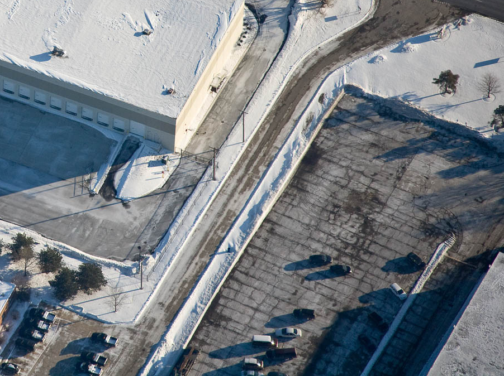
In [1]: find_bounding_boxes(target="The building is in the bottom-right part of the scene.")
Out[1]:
[421,250,504,376]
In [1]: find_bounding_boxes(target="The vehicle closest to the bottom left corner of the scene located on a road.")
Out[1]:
[0,360,23,374]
